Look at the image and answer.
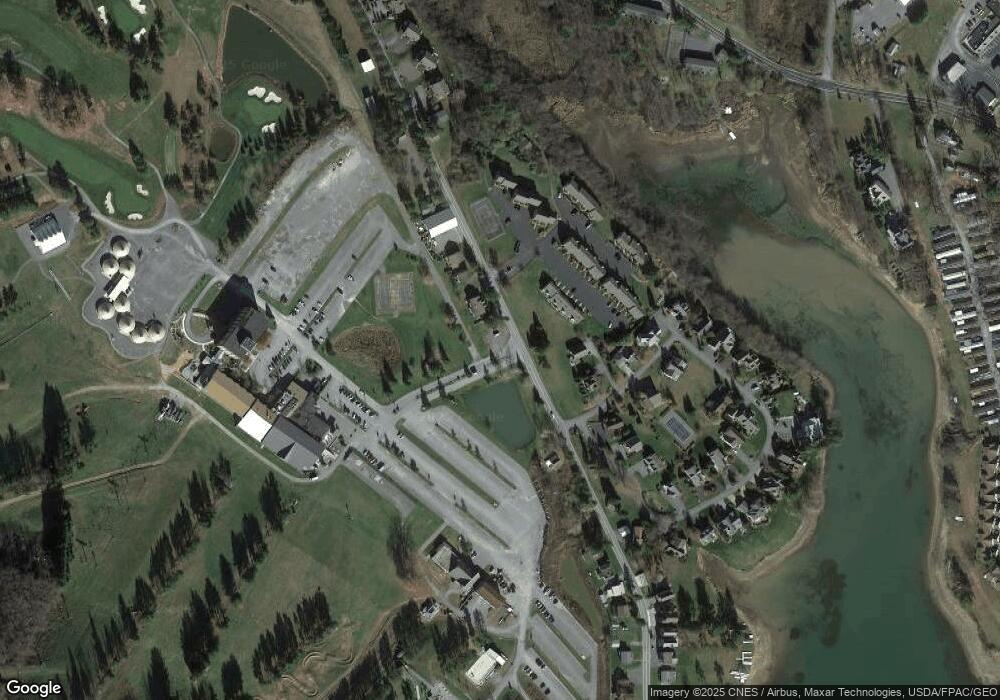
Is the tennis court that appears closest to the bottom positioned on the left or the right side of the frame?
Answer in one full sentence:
The tennis court that appears closest to the bottom is on the right side of the image.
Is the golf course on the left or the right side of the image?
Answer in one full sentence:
The golf course is on the left side of the image.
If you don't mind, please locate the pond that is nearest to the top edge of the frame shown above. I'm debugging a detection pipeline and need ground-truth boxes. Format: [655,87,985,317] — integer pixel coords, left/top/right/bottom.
[222,5,328,105]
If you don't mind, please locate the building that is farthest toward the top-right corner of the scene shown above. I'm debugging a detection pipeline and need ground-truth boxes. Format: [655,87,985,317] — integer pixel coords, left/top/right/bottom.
[969,16,1000,48]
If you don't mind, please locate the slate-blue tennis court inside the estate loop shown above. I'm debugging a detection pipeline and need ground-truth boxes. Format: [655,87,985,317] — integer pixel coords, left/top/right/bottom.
[660,413,696,449]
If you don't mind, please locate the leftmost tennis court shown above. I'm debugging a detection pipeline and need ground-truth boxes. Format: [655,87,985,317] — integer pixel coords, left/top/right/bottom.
[375,273,413,314]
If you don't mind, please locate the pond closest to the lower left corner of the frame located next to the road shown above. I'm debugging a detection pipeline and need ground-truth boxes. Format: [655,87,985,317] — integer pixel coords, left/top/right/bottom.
[458,380,537,450]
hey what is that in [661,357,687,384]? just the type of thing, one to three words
house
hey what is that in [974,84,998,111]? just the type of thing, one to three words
building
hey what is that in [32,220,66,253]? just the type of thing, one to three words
barn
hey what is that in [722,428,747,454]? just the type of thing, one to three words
house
